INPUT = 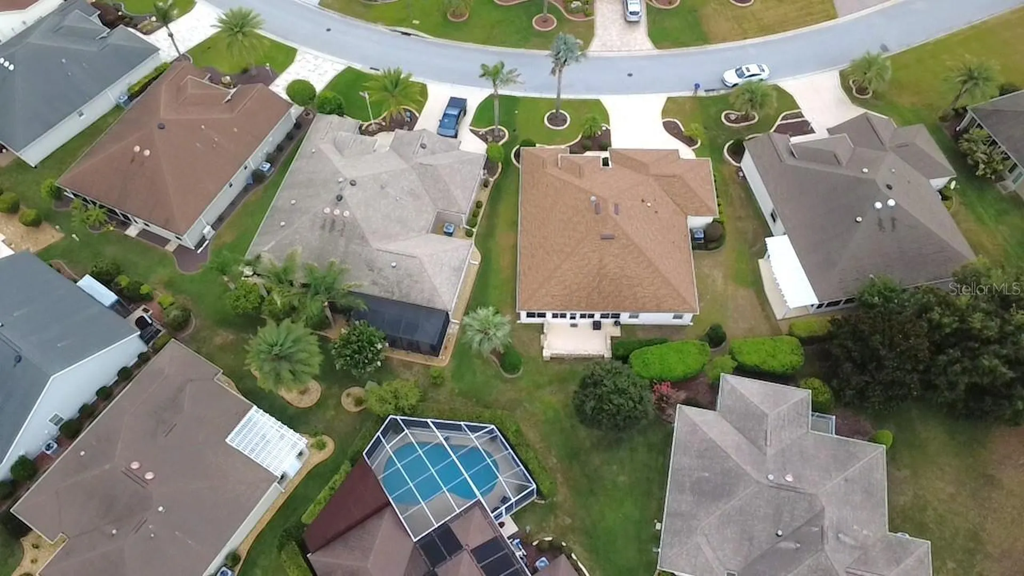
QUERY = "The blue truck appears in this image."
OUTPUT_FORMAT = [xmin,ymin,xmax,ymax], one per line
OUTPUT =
[437,91,470,137]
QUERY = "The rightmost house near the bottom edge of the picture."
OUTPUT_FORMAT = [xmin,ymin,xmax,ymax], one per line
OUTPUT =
[657,373,933,576]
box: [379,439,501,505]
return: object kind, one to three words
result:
swimming pool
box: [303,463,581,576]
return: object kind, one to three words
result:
house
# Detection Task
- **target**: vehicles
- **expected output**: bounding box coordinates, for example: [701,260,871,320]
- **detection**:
[623,0,645,19]
[437,91,470,137]
[720,62,773,88]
